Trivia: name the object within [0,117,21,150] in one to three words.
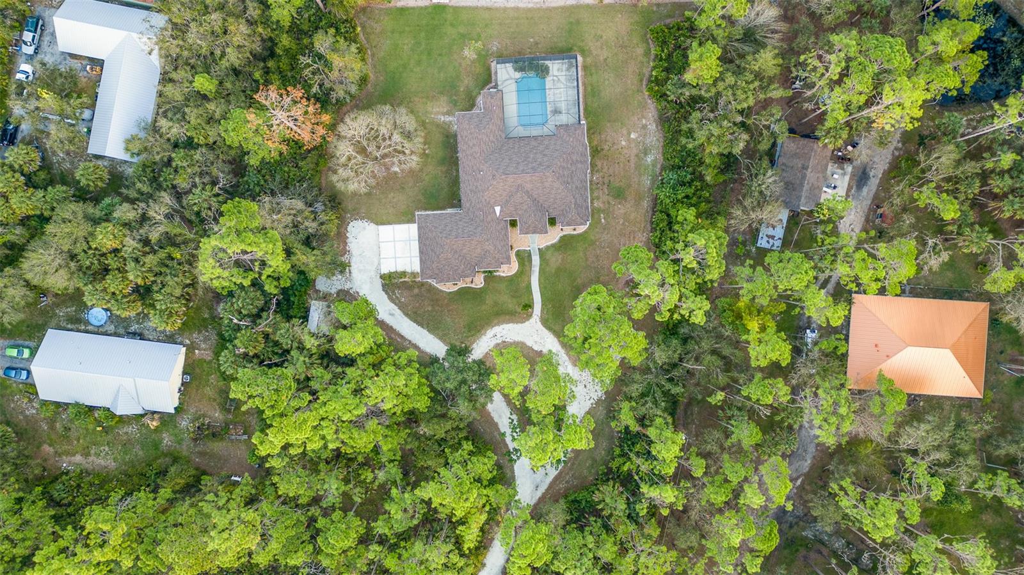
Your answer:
truck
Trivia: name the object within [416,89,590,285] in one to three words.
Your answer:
house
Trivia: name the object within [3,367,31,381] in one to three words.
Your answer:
car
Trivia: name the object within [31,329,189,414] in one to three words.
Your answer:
house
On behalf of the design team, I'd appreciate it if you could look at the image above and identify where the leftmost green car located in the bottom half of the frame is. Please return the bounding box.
[5,346,32,359]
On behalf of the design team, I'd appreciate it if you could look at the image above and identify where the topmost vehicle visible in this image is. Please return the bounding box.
[19,16,42,55]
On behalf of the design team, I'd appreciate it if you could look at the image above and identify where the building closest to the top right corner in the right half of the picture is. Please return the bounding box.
[769,137,832,206]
